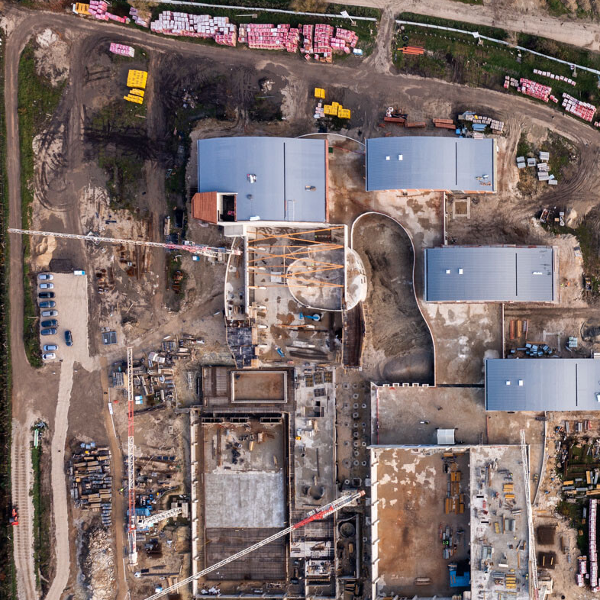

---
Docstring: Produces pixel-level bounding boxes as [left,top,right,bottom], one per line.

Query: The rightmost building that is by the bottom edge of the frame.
[366,444,532,600]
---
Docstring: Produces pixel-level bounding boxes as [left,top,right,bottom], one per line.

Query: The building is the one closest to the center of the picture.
[218,223,352,317]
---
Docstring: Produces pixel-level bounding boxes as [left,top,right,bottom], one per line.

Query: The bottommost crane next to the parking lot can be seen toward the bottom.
[143,488,369,600]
